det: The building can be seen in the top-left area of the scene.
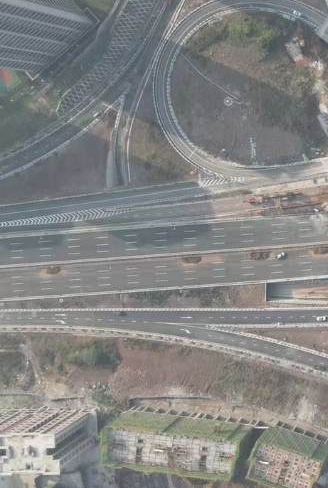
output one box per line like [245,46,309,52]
[0,0,94,74]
